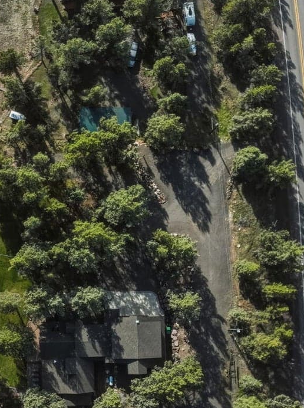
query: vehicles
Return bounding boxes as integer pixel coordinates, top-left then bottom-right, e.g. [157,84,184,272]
[187,31,199,57]
[126,40,138,69]
[182,0,196,27]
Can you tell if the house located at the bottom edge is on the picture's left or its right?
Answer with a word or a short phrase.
left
